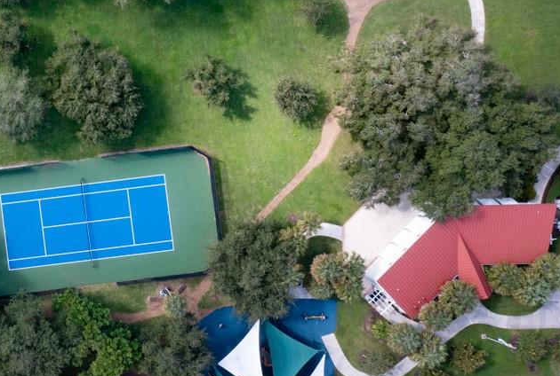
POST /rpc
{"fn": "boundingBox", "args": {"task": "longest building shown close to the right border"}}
[364,196,557,319]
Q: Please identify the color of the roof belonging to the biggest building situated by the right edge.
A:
red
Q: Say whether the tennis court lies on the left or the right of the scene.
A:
left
